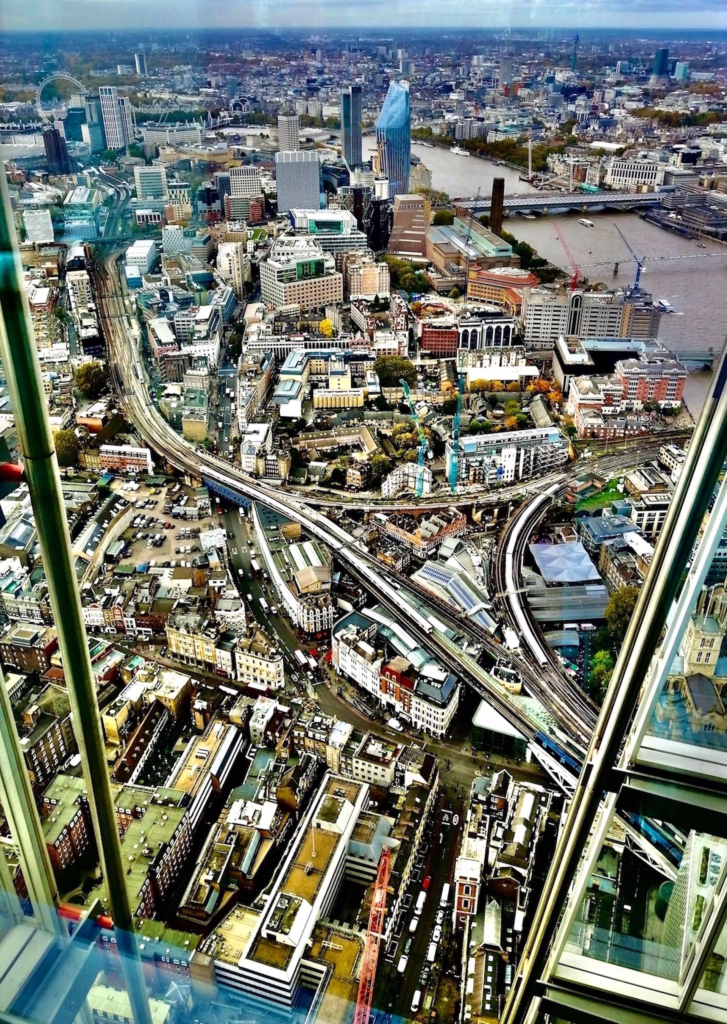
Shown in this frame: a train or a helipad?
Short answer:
train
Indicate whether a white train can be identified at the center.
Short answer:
Yes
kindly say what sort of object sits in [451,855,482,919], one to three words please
house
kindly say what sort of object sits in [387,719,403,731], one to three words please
vehicle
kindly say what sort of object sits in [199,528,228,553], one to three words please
building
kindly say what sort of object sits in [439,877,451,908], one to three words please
vehicle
